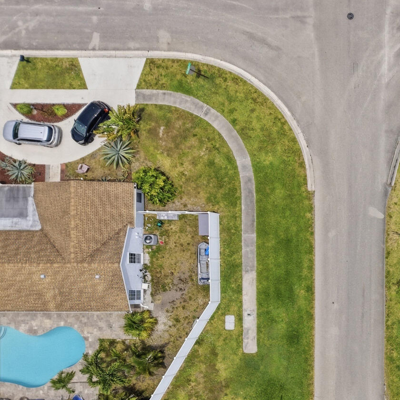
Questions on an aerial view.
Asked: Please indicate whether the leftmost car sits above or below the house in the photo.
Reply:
above it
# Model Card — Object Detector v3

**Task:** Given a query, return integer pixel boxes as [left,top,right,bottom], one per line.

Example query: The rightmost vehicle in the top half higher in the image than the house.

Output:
[70,97,109,147]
